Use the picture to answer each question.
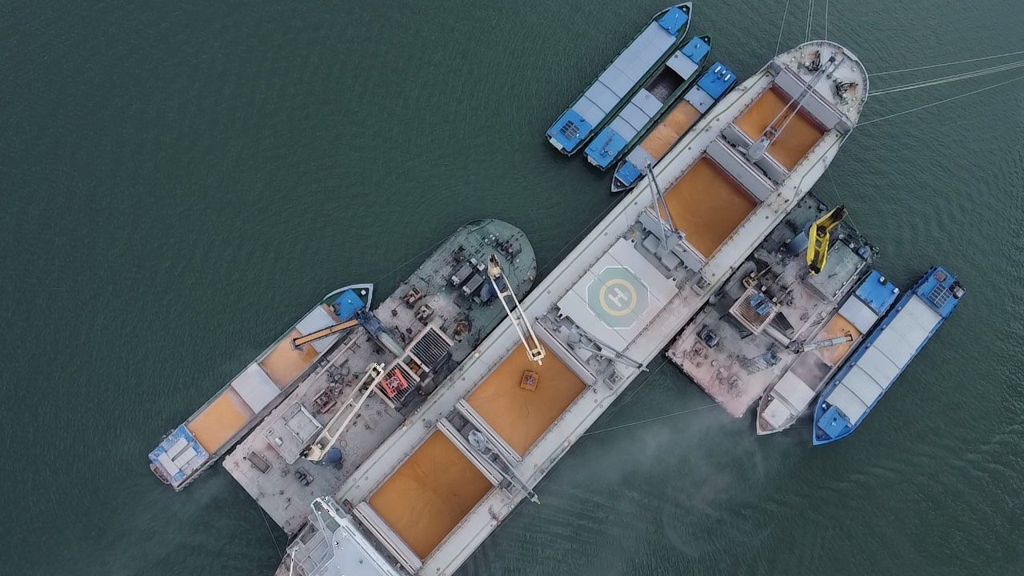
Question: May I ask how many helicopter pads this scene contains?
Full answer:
In total, there is 1 helicopter pad in the scene.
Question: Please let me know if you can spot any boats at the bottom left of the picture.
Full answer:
Yes, a boat is visible at the bottom left of the picture.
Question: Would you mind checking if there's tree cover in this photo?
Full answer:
No, the picture contains no tree cover.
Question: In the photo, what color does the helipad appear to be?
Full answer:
From above, the helipad appears white.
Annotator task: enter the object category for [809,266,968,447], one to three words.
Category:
boat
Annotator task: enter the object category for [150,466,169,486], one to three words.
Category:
boat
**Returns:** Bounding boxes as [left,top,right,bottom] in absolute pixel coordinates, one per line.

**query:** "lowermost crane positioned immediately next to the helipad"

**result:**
[563,327,649,373]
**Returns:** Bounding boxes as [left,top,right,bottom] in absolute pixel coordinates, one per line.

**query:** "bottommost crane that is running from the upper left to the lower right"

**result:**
[467,431,539,503]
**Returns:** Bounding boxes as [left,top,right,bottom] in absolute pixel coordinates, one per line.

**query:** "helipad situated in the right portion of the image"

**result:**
[581,258,658,334]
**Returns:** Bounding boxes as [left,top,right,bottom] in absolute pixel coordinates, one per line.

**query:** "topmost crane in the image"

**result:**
[742,58,843,167]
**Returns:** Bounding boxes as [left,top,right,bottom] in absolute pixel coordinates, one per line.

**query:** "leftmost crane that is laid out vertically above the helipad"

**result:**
[645,161,685,258]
